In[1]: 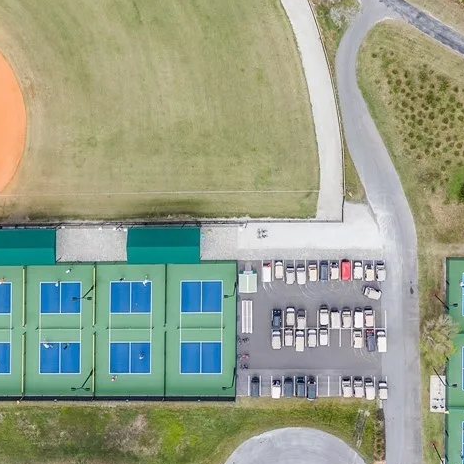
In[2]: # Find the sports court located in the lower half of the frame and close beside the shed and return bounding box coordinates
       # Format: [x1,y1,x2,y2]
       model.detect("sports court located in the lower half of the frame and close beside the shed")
[166,266,236,397]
